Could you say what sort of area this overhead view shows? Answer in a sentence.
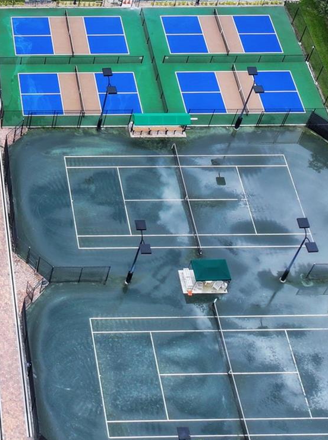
This image shows a sports ground.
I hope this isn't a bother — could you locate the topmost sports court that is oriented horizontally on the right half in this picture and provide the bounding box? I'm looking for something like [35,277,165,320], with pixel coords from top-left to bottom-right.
[160,8,284,54]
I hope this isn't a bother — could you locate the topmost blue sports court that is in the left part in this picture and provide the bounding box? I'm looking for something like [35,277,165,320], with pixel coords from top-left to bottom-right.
[11,10,130,57]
